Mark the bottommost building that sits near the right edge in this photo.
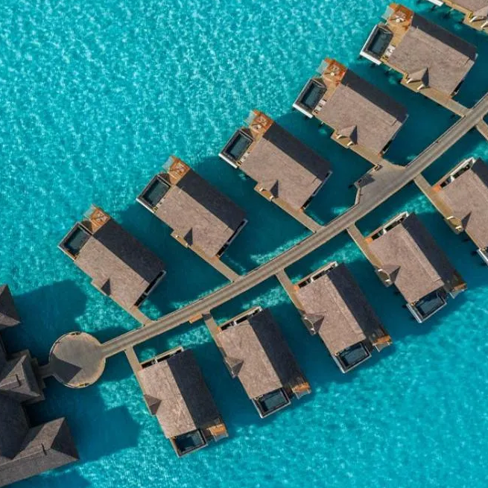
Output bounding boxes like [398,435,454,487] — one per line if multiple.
[363,208,465,304]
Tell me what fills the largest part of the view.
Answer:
water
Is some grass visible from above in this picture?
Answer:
No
